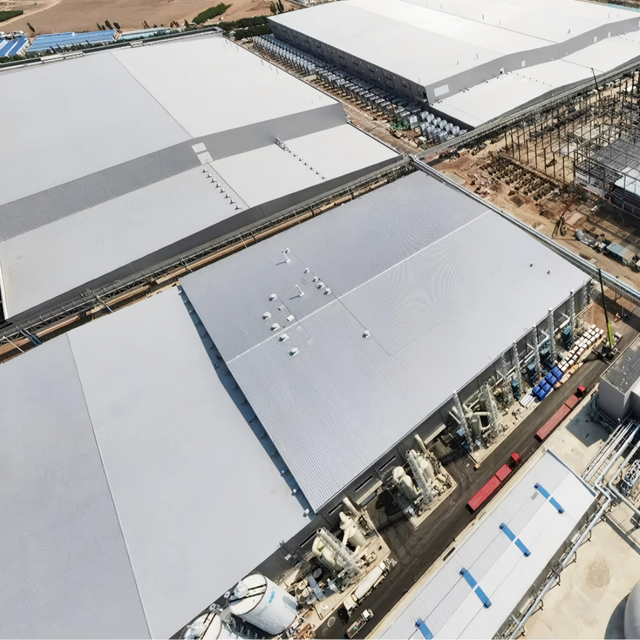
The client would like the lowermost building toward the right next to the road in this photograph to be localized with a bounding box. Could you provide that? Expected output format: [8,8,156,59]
[377,449,597,640]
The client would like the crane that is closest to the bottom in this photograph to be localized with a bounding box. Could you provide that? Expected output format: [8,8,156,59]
[598,267,628,358]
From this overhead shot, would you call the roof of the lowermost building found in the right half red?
No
